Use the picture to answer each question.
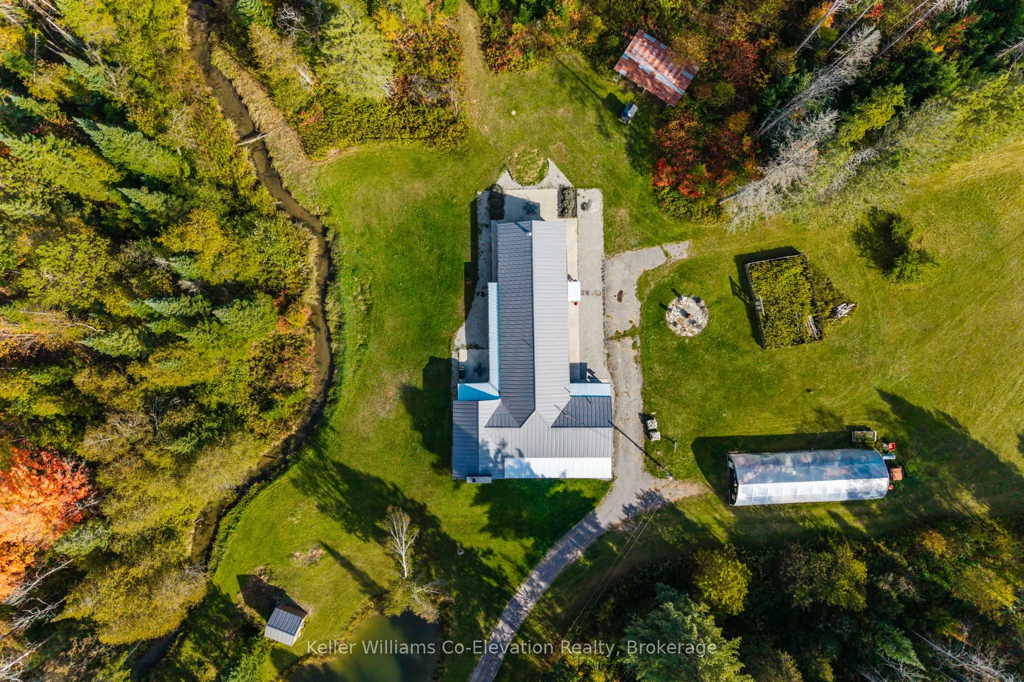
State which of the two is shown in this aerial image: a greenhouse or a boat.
greenhouse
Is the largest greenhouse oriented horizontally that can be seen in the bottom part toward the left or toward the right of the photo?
right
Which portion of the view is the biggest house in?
center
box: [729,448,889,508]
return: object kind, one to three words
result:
greenhouse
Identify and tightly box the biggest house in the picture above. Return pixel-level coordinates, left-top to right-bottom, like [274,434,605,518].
[452,218,612,486]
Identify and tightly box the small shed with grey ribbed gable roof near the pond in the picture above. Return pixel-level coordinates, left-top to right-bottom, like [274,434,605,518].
[259,599,309,653]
